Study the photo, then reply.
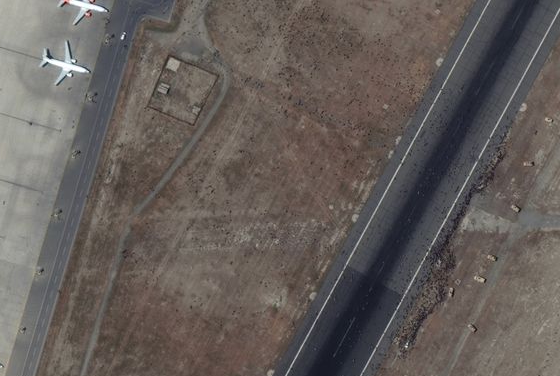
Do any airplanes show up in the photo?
Yes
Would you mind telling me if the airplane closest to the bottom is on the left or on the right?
left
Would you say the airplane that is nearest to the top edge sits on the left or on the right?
left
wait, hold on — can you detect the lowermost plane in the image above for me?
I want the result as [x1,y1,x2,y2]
[41,42,89,84]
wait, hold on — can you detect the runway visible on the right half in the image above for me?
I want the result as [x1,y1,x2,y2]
[273,0,560,376]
